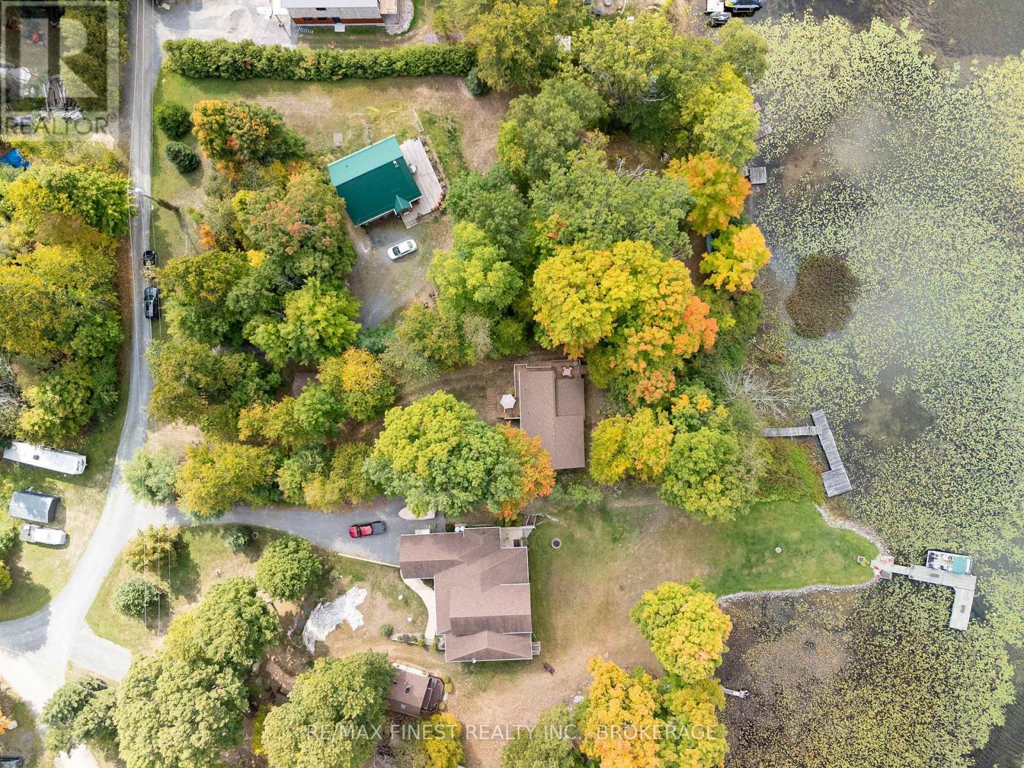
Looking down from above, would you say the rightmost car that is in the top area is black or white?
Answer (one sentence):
From above, the rightmost car that is in the top area appears white.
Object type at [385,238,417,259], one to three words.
car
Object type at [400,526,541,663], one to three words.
house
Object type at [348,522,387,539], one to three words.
vehicle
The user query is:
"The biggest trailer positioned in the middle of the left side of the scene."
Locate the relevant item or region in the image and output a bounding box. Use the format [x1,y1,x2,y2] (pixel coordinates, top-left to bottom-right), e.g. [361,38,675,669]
[8,440,98,473]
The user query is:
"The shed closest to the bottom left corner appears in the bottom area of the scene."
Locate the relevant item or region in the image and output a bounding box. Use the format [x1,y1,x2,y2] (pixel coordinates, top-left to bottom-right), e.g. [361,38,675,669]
[1,489,54,524]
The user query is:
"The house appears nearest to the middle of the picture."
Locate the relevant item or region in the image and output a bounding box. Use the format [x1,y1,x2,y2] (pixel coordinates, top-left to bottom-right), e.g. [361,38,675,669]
[487,359,588,470]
